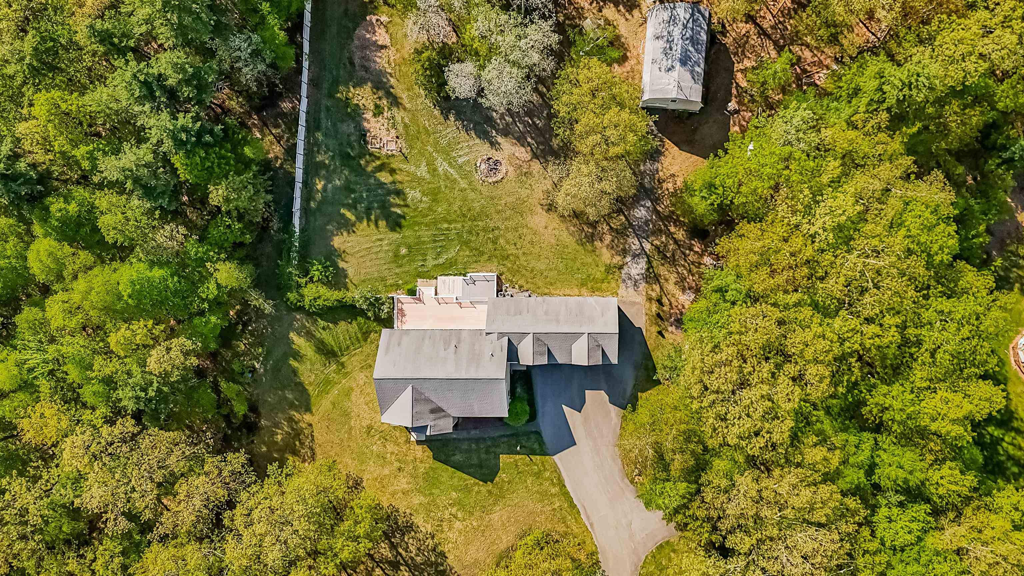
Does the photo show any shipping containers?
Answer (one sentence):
No, I can see no shipping container in this picture.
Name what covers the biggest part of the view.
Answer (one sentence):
Most of the picture is covered by trees.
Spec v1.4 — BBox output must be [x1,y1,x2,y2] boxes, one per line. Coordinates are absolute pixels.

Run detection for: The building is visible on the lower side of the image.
[373,296,620,437]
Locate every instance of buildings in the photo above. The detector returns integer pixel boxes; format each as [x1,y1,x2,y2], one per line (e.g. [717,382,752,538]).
[639,2,712,113]
[373,296,620,437]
